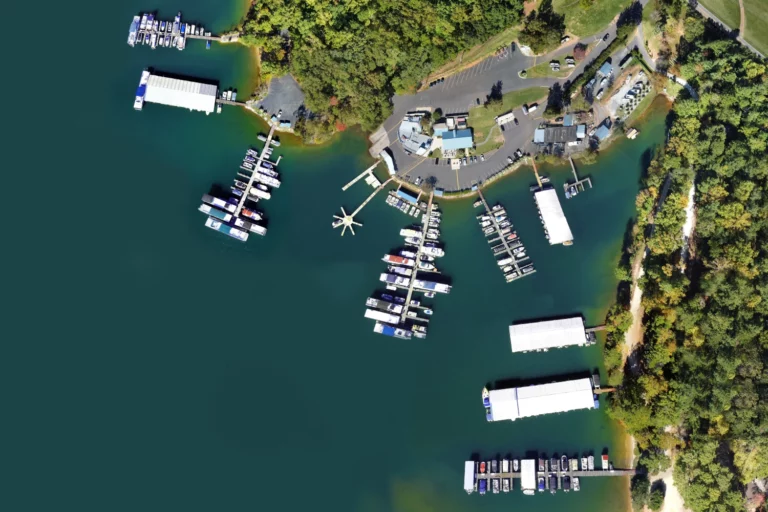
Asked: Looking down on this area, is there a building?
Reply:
Yes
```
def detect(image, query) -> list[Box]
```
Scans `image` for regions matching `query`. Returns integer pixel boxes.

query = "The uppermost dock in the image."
[135,20,221,48]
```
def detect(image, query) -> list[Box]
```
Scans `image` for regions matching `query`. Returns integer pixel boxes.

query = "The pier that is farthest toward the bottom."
[476,462,634,490]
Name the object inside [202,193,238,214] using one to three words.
boat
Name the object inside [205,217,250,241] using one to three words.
boat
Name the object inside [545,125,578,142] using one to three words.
building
